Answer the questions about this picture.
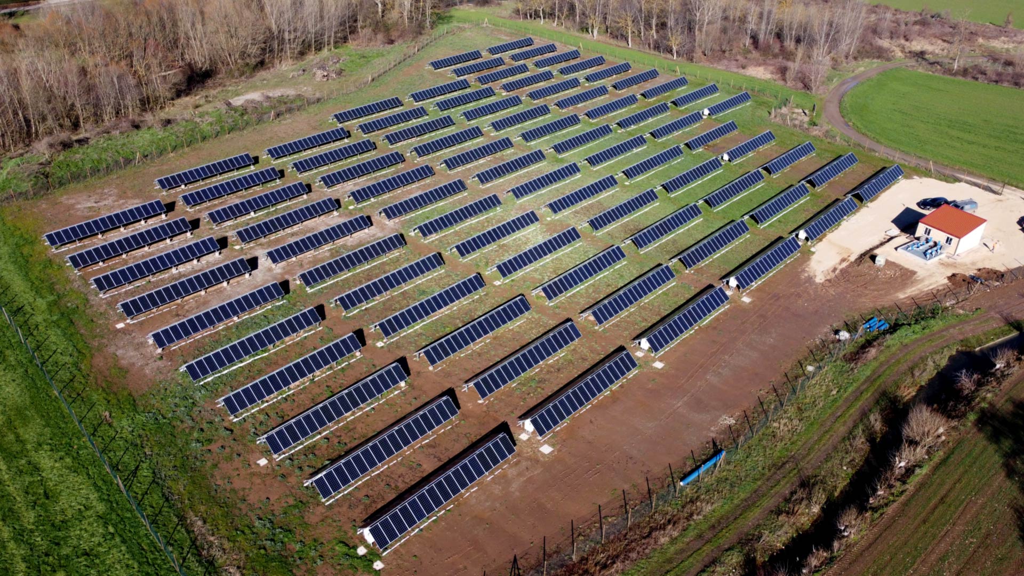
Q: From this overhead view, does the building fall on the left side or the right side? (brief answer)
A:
right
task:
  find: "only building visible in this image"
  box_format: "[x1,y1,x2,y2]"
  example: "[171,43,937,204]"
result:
[915,202,991,255]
